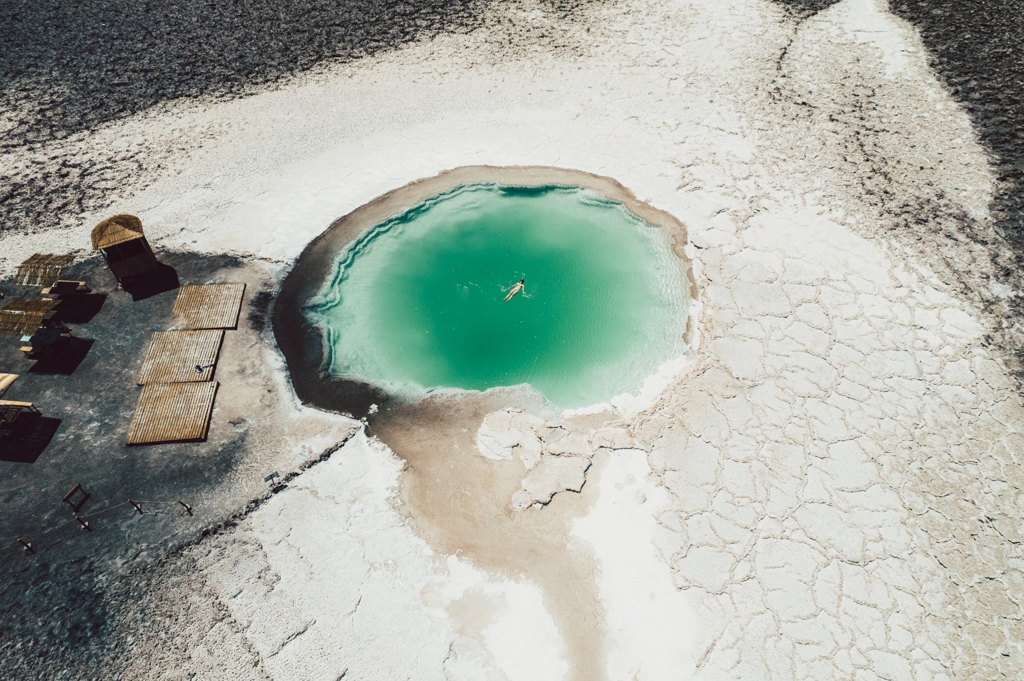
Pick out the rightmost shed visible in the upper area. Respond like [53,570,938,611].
[88,212,162,283]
